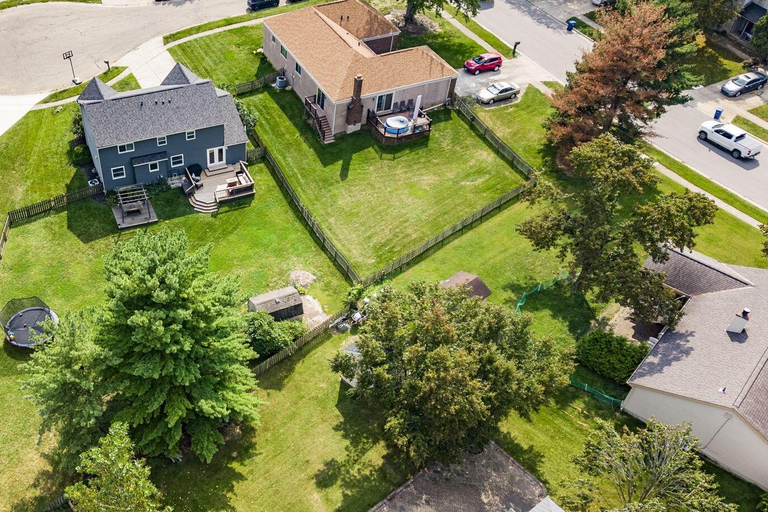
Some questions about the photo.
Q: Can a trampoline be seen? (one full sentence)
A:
Yes, the picture does show a trampoline.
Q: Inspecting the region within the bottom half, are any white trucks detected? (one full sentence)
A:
No, no white truck appears within the bottom half.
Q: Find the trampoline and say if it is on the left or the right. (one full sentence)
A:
The trampoline appears in the left half of the scene.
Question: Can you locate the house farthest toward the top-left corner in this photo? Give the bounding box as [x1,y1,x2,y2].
[74,62,249,193]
